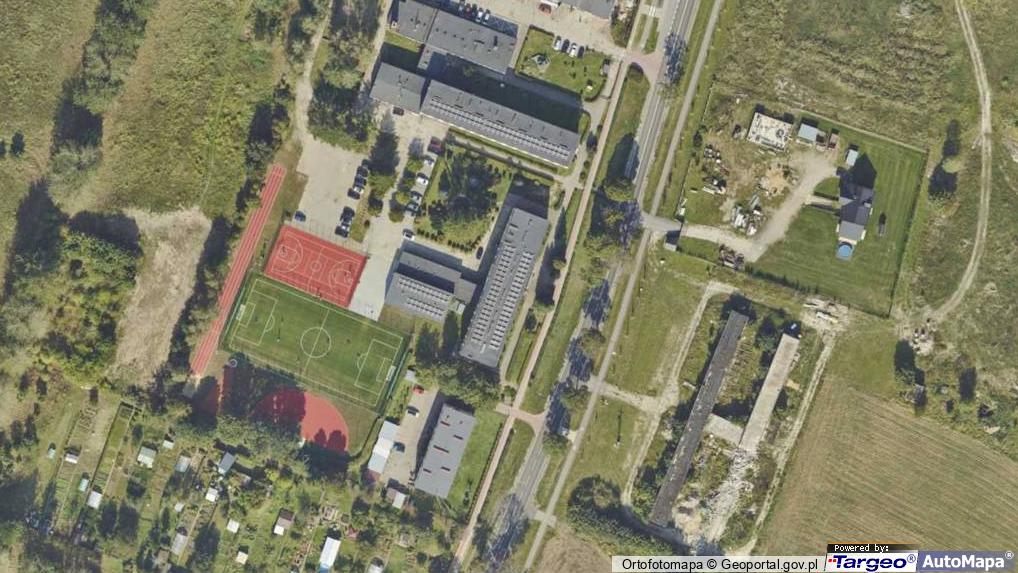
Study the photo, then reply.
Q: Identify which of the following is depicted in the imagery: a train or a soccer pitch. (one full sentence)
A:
There is a soccer pitch in the scene.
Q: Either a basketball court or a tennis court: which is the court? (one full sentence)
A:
I'd say the court is a basketball court.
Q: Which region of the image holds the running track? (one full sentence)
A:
The running track is located in the left region of the scene.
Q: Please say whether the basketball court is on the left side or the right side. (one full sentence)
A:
The basketball court is on the left side of the image.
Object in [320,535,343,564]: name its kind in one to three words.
shed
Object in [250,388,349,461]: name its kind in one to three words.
sports field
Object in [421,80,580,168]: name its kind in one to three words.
building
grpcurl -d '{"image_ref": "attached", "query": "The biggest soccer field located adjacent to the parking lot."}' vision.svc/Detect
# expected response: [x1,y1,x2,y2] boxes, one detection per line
[219,273,411,414]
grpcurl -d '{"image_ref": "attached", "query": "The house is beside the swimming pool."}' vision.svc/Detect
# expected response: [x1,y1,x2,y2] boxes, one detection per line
[836,183,876,247]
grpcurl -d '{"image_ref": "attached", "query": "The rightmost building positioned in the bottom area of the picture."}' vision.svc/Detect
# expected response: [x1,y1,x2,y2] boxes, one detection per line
[739,333,800,453]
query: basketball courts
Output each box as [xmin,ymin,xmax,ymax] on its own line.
[264,226,366,307]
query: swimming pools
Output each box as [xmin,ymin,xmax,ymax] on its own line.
[836,243,853,261]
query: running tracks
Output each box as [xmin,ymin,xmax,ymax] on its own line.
[192,164,287,377]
